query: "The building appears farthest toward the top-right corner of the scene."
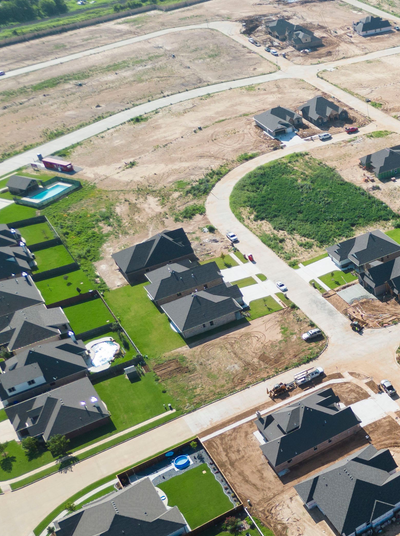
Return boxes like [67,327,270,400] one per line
[347,12,394,37]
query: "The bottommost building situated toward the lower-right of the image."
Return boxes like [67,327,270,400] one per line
[292,447,400,536]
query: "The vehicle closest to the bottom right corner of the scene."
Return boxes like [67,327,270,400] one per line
[380,379,397,397]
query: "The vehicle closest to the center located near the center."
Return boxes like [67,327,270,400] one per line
[224,227,240,241]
